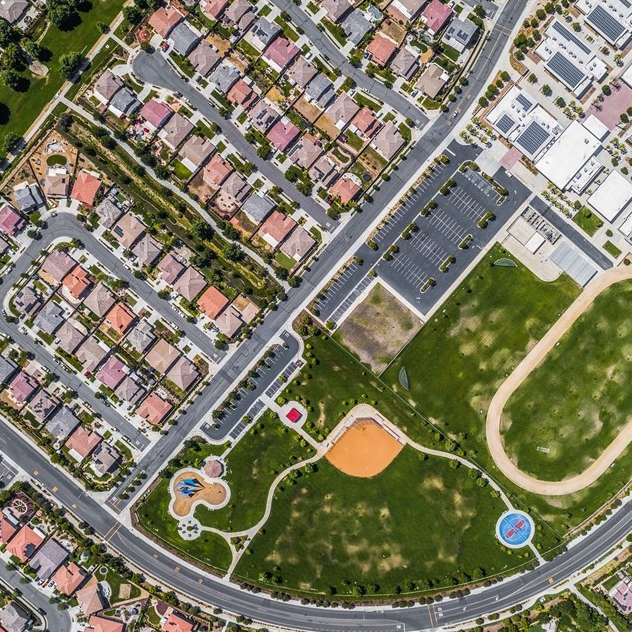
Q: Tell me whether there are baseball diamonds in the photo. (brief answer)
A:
Yes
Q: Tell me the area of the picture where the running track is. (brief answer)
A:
right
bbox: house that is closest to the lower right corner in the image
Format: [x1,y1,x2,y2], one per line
[605,578,632,619]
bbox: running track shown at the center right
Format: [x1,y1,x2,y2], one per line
[486,265,632,493]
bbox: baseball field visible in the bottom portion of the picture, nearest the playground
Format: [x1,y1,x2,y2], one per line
[319,404,410,478]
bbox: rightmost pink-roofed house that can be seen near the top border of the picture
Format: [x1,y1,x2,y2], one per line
[419,2,454,33]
